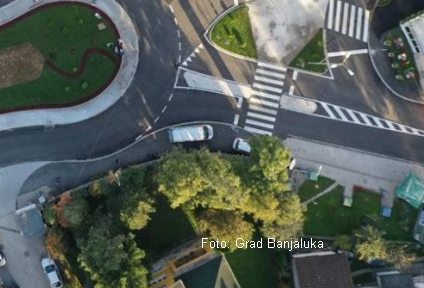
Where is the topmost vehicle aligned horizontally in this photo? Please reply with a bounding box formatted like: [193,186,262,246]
[166,123,212,141]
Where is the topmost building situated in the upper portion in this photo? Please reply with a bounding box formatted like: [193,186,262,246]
[384,3,424,54]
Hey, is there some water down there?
No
